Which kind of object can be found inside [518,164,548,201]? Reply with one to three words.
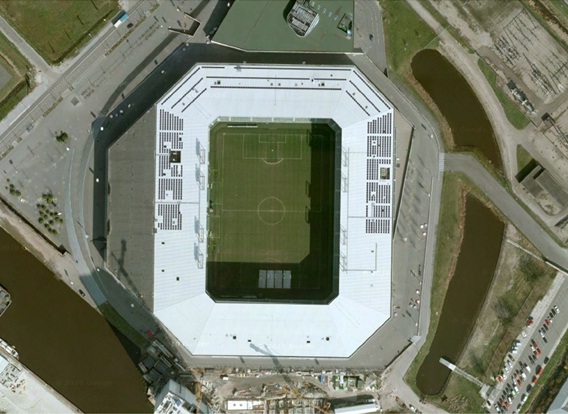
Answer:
shed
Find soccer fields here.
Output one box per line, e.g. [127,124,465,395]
[209,123,335,297]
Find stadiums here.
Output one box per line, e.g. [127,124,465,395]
[105,64,395,358]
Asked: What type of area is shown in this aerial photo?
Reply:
sports ground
